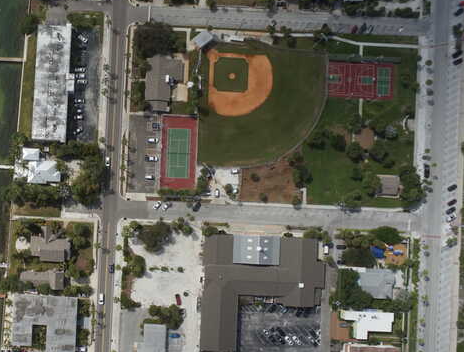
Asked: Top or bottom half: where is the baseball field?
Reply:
top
